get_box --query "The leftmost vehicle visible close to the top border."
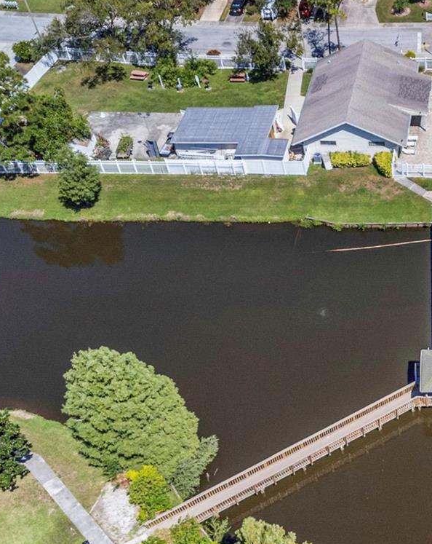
[227,0,247,15]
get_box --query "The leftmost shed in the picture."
[169,105,289,162]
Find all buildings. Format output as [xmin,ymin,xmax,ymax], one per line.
[169,105,289,162]
[291,41,432,164]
